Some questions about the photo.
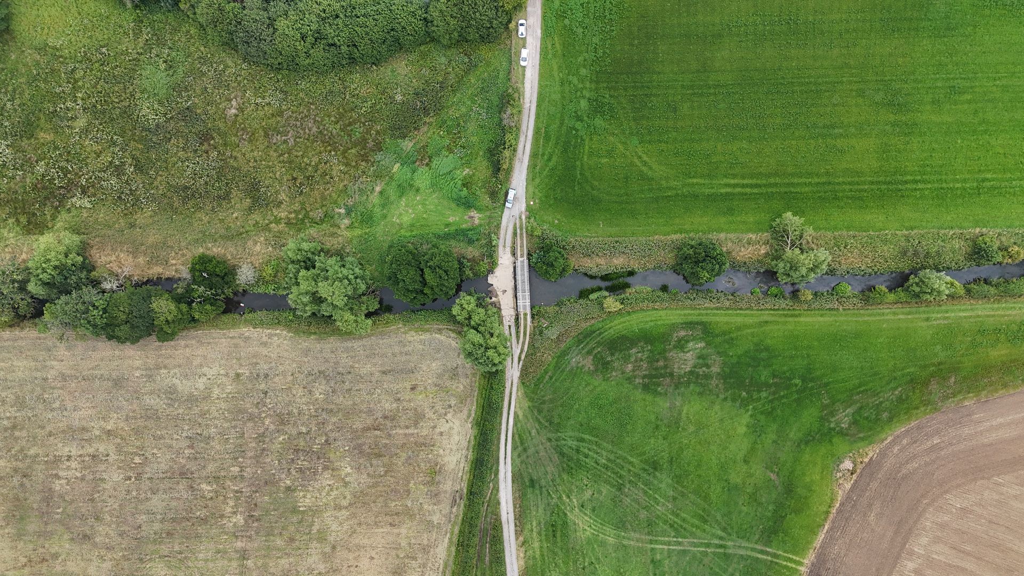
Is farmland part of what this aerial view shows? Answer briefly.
Yes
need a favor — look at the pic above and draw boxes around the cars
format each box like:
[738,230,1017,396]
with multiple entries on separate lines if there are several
[518,19,526,38]
[505,187,517,209]
[520,48,529,67]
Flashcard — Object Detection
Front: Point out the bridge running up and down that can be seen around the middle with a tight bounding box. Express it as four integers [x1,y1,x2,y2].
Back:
[516,257,531,313]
